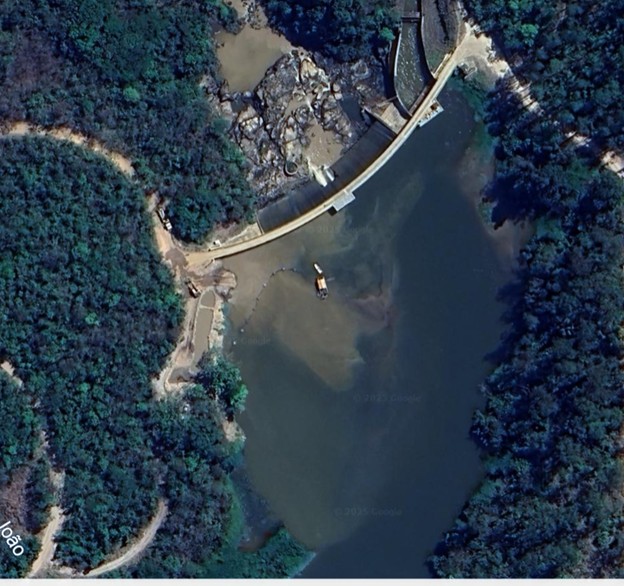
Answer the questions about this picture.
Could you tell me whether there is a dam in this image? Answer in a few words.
Yes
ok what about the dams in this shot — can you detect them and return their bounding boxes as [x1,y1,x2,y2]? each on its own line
[208,40,465,259]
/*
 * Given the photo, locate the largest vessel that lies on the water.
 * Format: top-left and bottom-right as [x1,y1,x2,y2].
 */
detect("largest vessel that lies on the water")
[317,276,333,299]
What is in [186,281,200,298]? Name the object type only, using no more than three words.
vehicle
